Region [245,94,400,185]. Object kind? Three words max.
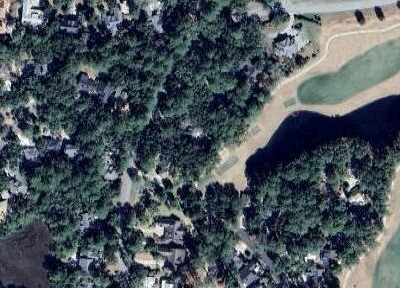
pond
